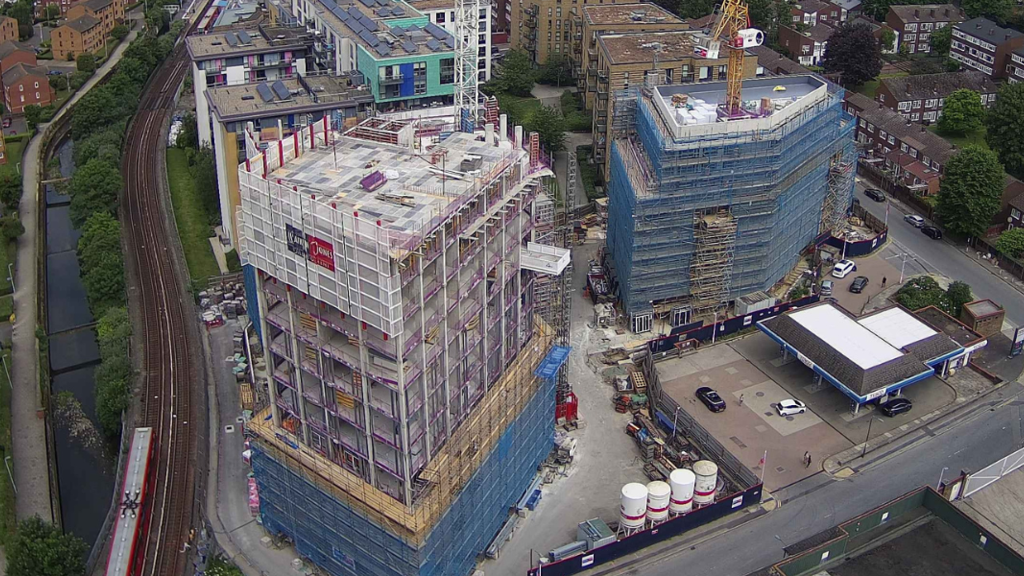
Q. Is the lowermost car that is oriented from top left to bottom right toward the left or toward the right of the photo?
right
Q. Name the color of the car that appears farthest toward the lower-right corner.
black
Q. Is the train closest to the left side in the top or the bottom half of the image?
bottom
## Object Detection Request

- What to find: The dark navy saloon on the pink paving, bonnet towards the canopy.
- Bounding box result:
[690,383,732,414]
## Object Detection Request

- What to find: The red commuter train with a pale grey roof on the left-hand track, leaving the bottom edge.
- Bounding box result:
[106,427,163,576]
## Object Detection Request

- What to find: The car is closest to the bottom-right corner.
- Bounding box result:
[878,396,920,418]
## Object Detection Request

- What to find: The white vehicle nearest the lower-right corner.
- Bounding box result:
[773,399,809,416]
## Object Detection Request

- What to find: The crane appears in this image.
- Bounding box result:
[690,0,777,116]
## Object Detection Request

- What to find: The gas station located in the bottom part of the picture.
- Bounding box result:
[756,301,967,425]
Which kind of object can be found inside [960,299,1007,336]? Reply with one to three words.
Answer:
building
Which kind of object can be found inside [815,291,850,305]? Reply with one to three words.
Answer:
car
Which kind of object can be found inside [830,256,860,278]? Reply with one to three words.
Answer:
car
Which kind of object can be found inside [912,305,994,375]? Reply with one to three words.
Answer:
building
